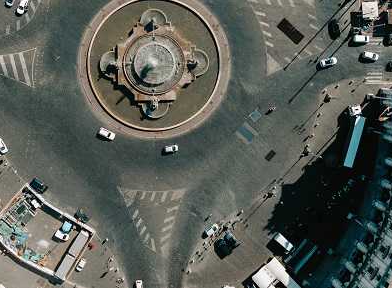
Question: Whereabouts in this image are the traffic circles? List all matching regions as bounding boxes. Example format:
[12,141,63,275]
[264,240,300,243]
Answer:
[18,0,291,201]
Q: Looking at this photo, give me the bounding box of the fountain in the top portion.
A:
[88,0,222,130]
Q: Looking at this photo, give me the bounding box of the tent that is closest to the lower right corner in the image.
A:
[248,257,298,288]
